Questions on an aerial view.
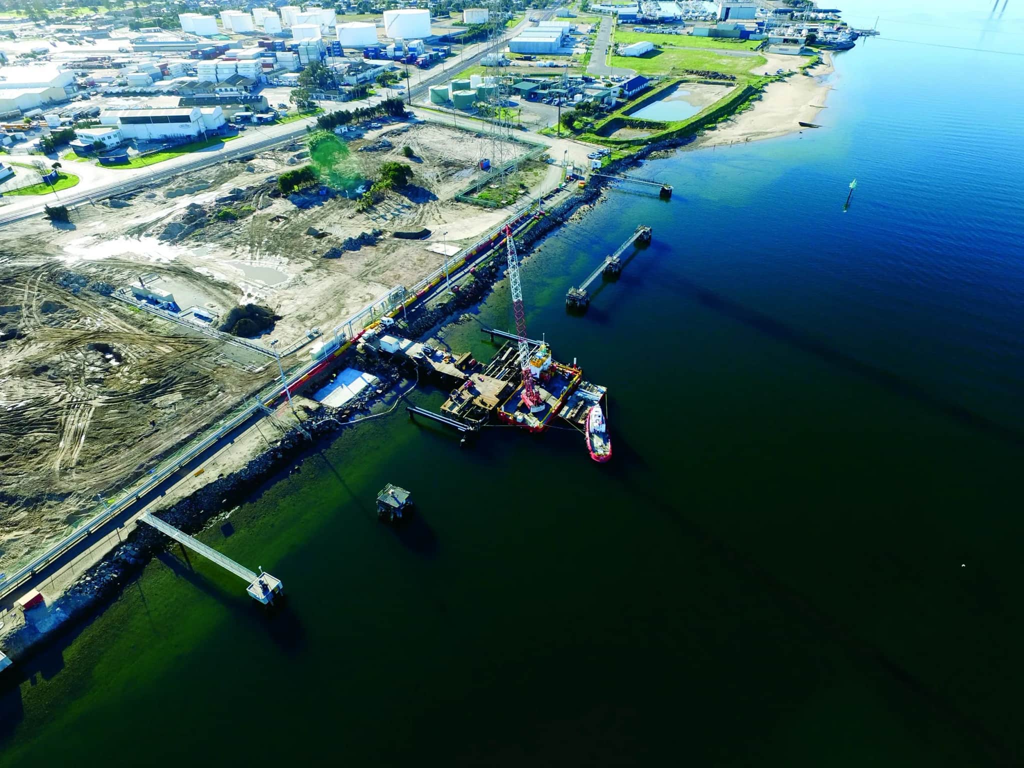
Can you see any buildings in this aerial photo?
Yes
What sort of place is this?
port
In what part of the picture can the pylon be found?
top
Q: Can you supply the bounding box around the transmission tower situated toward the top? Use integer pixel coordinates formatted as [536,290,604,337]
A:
[467,0,523,201]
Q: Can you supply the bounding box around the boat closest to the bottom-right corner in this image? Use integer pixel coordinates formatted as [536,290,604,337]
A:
[585,403,614,457]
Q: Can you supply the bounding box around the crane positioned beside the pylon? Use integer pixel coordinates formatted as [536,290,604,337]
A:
[505,229,546,404]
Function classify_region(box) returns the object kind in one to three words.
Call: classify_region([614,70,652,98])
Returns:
house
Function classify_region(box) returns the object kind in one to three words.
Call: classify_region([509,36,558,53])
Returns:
building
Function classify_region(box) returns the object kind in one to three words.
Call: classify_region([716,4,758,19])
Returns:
shed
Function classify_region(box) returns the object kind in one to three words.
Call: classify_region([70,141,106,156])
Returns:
building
